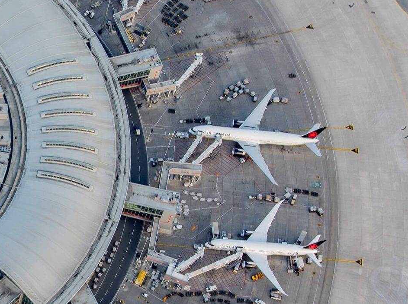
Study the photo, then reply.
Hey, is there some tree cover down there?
No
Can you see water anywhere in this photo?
No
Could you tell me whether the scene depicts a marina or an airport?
airport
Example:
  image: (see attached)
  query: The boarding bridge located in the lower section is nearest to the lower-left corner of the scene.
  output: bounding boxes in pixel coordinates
[173,246,205,273]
